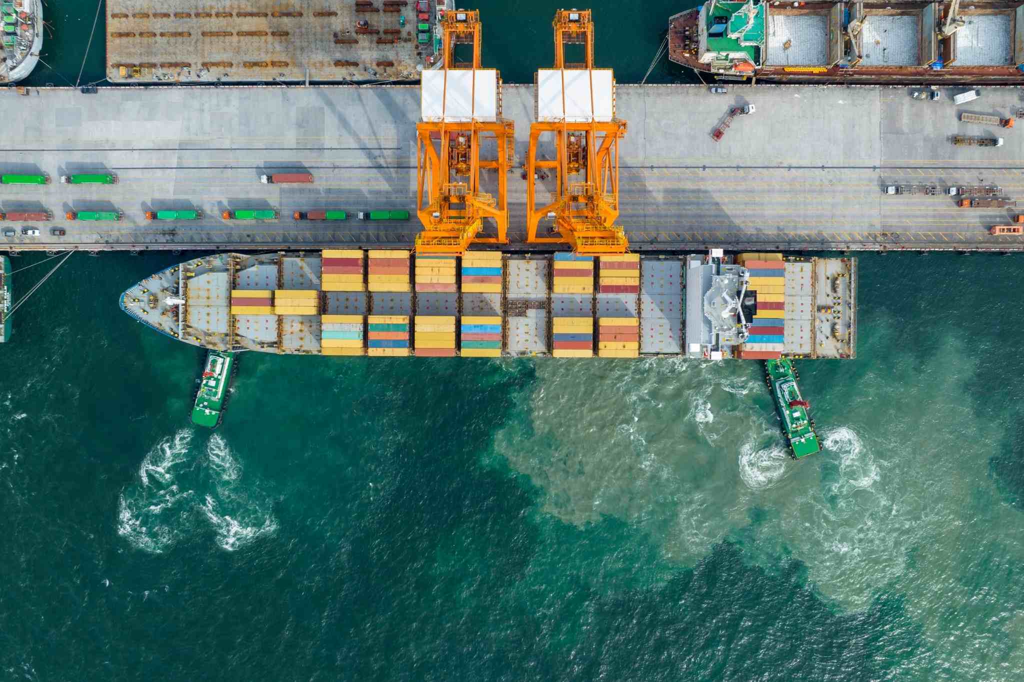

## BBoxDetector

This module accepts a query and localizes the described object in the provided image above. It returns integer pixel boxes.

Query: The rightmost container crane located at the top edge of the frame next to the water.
[516,6,636,255]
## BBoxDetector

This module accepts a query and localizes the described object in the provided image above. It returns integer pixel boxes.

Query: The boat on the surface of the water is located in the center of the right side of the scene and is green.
[767,359,823,459]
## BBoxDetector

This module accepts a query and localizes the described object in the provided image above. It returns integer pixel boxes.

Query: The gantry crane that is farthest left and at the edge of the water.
[404,6,521,255]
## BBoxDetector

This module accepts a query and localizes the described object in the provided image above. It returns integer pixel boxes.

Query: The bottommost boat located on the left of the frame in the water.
[190,347,235,430]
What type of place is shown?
port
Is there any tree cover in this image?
No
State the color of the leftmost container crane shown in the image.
orange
